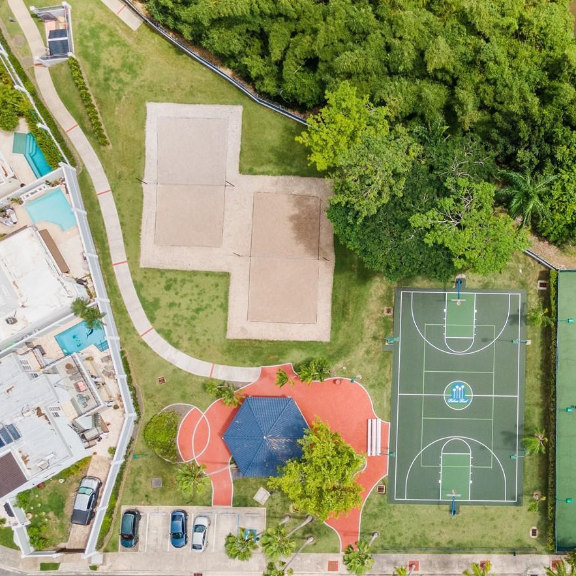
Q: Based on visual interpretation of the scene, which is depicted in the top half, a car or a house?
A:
house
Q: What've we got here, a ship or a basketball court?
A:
basketball court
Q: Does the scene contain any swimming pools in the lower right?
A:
No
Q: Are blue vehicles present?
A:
Yes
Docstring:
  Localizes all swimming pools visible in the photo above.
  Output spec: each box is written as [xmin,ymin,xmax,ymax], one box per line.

[11,132,52,178]
[53,320,108,356]
[23,188,75,231]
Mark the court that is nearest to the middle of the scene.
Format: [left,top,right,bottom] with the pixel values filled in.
[227,174,335,342]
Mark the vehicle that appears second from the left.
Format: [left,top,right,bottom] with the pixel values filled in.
[120,511,142,546]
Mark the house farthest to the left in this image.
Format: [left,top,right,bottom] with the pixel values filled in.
[0,154,40,217]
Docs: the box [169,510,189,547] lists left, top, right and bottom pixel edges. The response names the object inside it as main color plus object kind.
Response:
blue car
